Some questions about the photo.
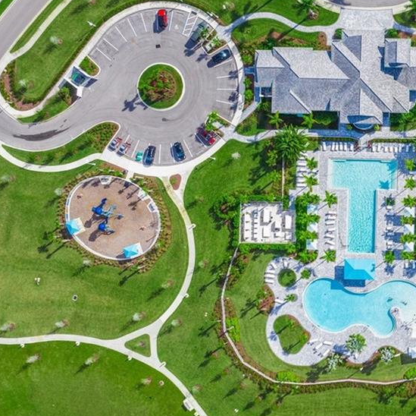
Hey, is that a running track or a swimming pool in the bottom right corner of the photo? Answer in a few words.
swimming pool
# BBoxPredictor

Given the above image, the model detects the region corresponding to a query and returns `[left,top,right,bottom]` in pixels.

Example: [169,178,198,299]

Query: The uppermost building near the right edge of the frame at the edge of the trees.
[252,26,416,132]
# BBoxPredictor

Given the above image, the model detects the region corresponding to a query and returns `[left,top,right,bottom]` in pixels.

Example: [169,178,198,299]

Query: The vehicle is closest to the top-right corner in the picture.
[212,49,232,62]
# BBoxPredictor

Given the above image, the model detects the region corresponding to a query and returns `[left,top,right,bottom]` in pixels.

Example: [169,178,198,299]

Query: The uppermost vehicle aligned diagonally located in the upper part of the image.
[190,19,209,41]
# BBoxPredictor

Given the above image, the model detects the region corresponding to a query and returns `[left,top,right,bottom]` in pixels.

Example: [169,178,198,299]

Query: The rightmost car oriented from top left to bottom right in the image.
[199,129,218,146]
